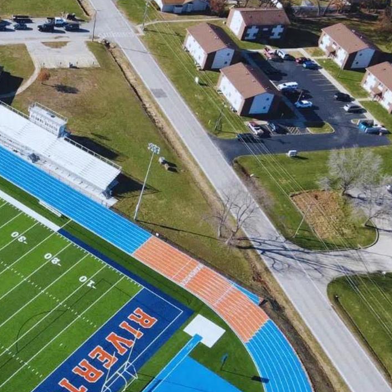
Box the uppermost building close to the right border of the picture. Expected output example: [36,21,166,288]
[317,23,381,69]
